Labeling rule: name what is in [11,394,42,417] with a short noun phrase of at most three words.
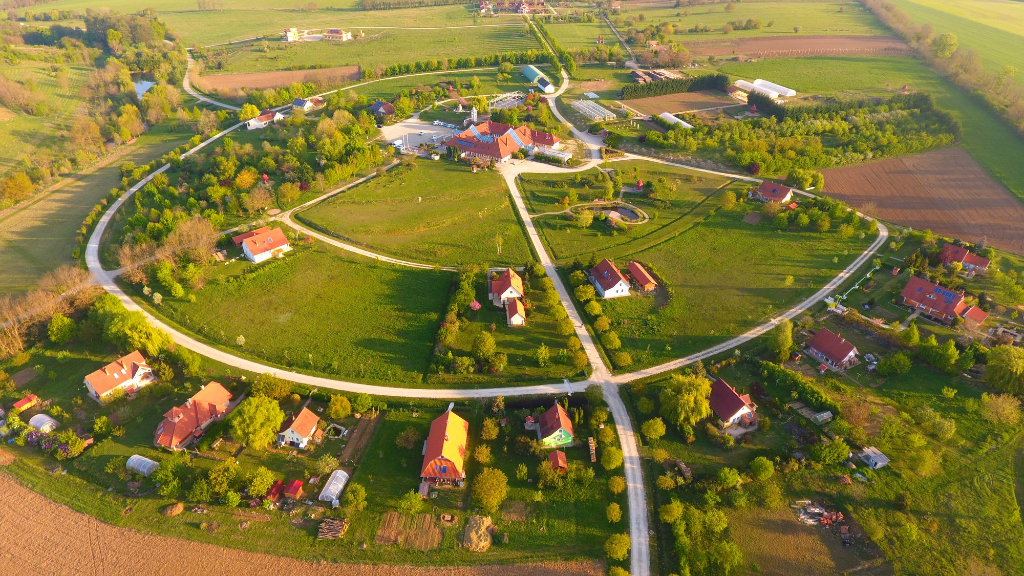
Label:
shed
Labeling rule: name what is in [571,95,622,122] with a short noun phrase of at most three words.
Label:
greenhouse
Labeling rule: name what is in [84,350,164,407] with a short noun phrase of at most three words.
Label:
house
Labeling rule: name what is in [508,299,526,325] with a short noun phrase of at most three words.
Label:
building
